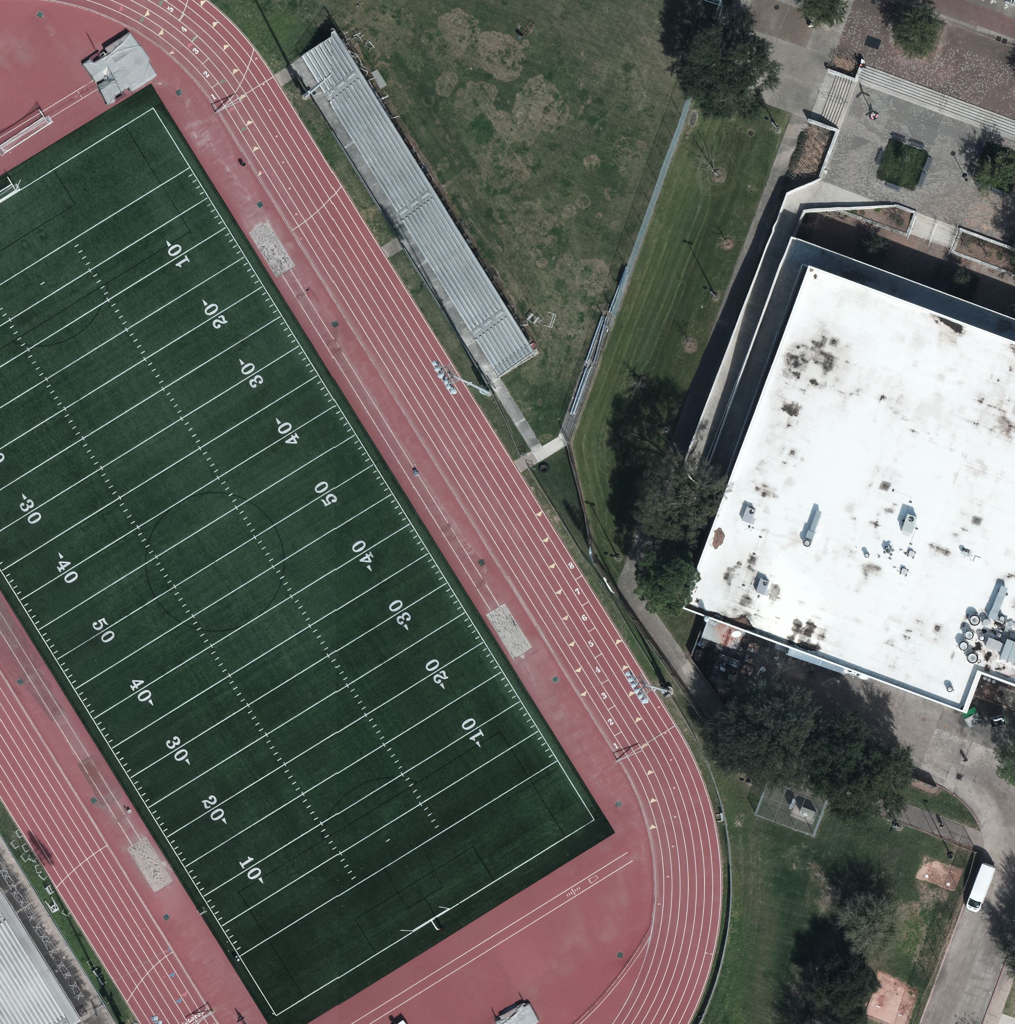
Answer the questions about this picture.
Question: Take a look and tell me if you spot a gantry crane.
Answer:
No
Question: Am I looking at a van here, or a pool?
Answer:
van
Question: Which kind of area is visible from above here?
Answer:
sports ground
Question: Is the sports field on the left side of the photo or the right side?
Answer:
left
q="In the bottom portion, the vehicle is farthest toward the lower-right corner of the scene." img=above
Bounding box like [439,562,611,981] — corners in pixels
[967,864,995,913]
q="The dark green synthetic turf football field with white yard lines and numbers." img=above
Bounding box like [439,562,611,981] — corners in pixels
[0,83,614,1024]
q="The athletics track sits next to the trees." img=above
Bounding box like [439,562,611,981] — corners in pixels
[0,0,722,1024]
